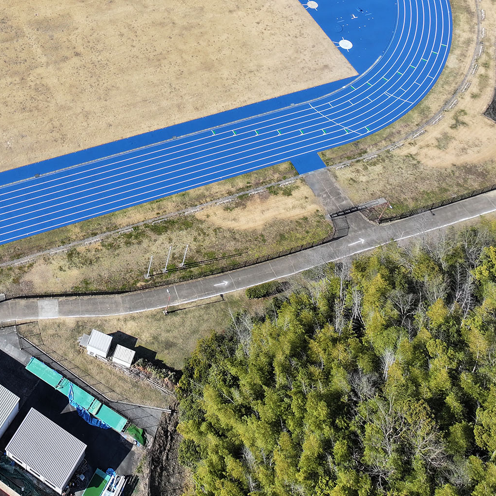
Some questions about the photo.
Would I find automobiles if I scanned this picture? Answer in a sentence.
No, there is no automobile in the image.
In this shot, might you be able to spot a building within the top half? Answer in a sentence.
No, I can find no building within the top half.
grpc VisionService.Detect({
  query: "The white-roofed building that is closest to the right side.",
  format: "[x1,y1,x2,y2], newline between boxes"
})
[111,342,136,370]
